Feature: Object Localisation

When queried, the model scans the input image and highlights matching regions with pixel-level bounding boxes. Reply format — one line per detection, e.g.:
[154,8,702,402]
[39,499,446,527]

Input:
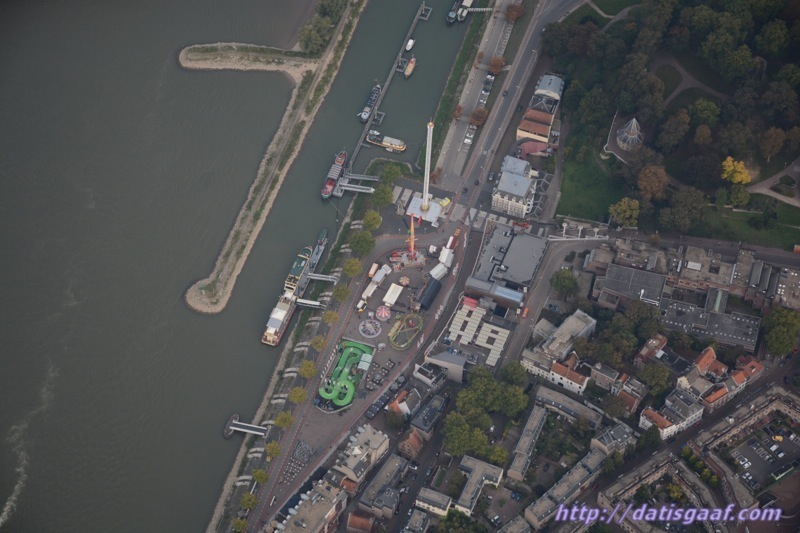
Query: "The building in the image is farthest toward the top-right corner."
[618,114,646,151]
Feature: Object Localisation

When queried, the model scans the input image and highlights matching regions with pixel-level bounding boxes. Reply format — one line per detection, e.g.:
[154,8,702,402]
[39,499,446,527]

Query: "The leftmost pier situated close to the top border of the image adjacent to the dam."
[349,0,427,165]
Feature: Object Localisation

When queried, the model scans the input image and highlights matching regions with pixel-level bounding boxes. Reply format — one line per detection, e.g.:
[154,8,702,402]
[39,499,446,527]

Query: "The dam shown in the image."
[179,0,362,313]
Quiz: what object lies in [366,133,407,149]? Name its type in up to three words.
vessel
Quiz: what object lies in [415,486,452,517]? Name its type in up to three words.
house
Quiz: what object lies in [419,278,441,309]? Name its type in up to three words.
tent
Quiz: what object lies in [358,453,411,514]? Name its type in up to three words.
building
